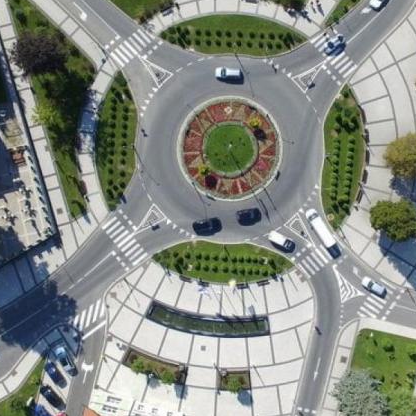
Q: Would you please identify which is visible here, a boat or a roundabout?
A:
roundabout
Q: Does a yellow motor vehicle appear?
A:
No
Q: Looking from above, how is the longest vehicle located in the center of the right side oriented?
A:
at an angle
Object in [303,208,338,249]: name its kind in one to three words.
vehicle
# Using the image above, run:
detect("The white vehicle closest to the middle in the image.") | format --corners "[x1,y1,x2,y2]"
[268,230,296,250]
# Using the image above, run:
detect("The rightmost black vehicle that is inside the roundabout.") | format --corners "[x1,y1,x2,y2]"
[236,208,263,223]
